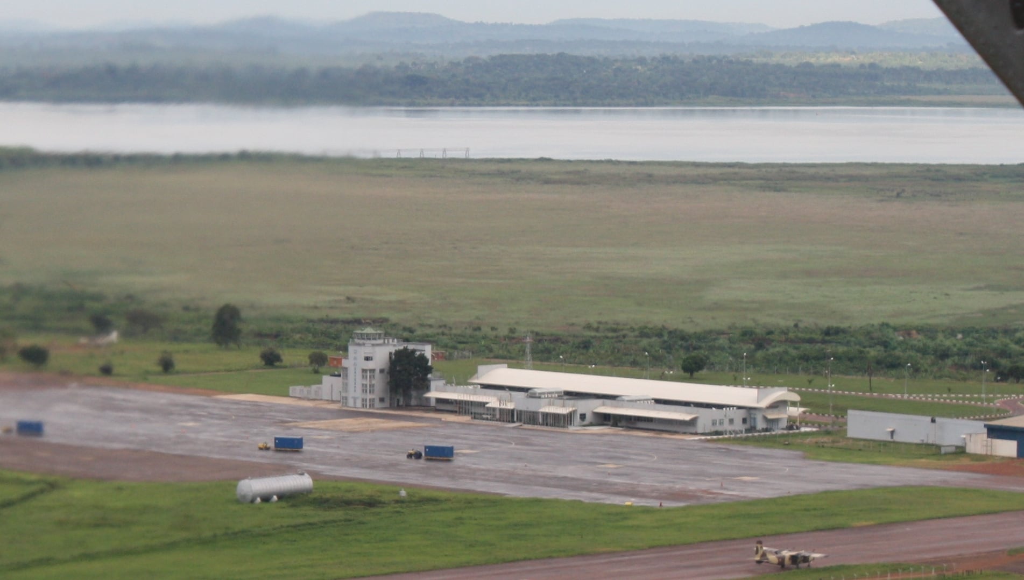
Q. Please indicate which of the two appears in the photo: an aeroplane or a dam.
aeroplane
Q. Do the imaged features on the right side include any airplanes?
Yes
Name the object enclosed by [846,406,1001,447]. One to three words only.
shed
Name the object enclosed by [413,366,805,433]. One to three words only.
building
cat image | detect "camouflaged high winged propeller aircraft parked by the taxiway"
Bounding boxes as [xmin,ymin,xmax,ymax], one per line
[749,541,824,567]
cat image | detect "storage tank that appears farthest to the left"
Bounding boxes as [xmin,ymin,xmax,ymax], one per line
[237,467,311,502]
